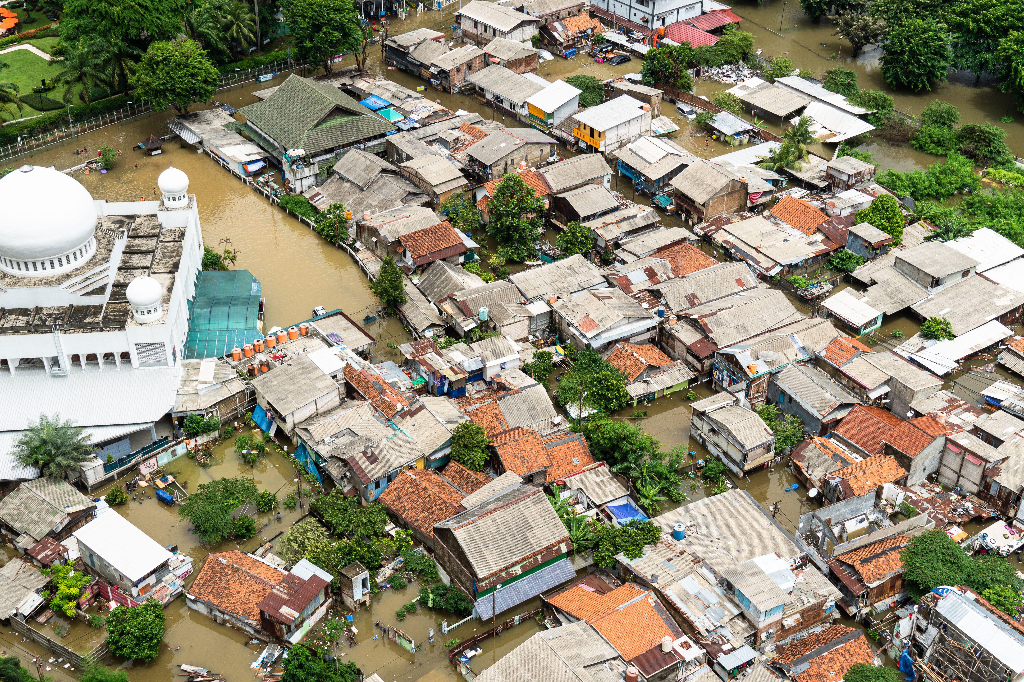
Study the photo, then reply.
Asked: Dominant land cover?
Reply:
buildings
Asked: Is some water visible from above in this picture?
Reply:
Yes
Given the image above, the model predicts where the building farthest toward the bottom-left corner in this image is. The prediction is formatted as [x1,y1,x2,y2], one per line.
[0,558,51,635]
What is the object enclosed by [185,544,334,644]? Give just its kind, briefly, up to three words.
house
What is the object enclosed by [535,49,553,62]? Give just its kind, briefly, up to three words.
vehicle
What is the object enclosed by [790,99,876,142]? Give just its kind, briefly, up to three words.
shed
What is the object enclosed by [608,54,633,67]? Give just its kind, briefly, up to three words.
vehicle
